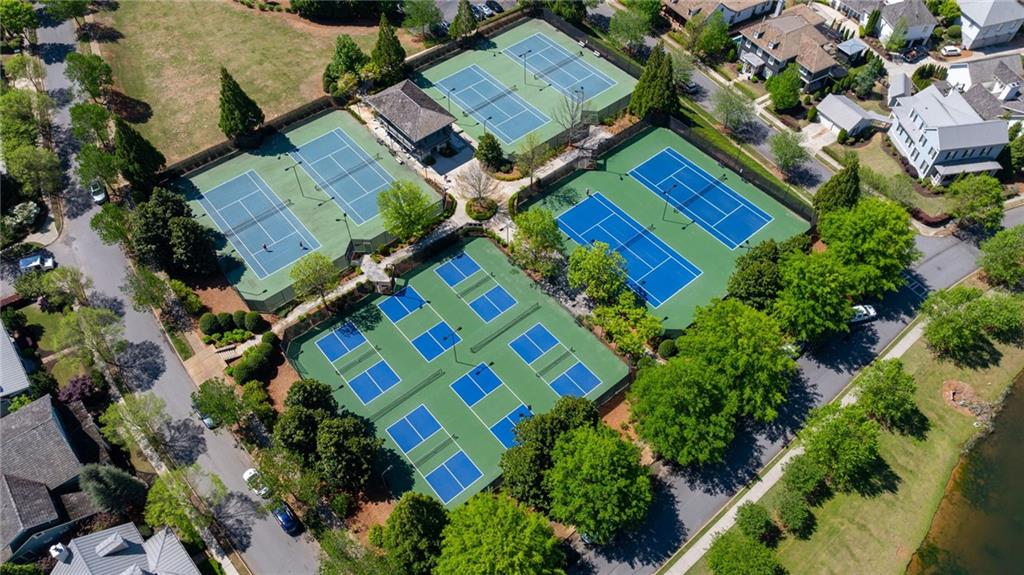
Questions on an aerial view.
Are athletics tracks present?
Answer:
No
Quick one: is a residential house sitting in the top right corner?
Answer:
Yes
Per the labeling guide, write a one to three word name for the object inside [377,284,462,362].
sports court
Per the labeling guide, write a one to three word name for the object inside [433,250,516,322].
sports court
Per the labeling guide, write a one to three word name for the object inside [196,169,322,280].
tennis court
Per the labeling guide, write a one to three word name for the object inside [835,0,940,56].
house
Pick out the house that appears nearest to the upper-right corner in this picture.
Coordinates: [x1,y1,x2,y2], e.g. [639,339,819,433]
[951,1,1024,52]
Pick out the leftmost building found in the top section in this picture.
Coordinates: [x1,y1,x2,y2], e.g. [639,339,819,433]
[365,78,458,163]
